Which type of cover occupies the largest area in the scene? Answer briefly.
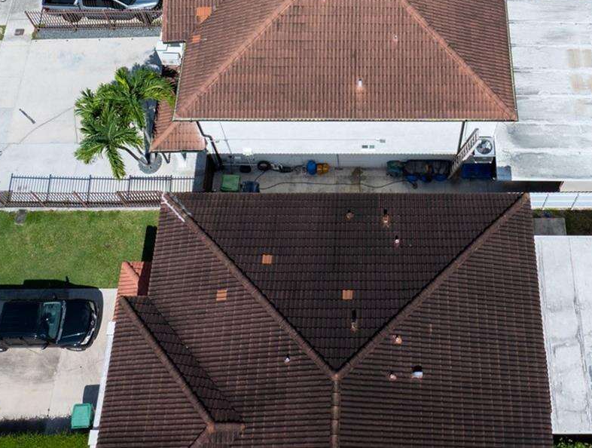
buildings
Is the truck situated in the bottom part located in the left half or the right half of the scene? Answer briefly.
left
